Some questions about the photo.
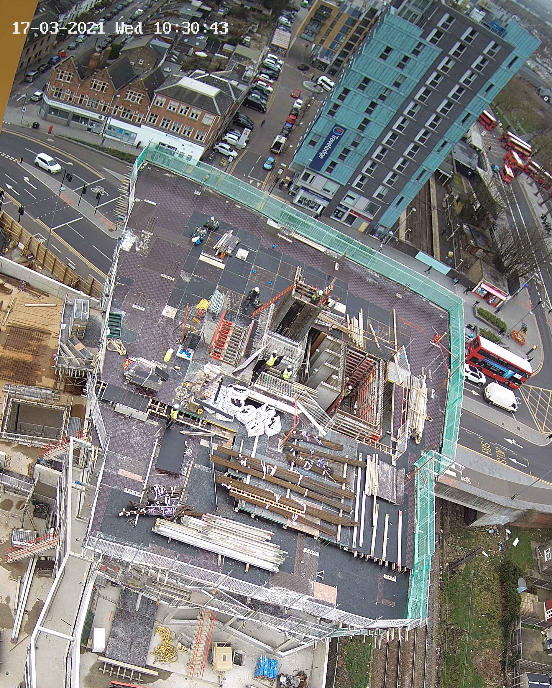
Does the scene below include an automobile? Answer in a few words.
Yes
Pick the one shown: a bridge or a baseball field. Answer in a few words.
bridge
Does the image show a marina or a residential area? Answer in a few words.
residential area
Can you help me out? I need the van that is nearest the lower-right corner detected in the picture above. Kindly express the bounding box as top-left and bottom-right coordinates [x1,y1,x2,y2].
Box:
[483,381,522,413]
